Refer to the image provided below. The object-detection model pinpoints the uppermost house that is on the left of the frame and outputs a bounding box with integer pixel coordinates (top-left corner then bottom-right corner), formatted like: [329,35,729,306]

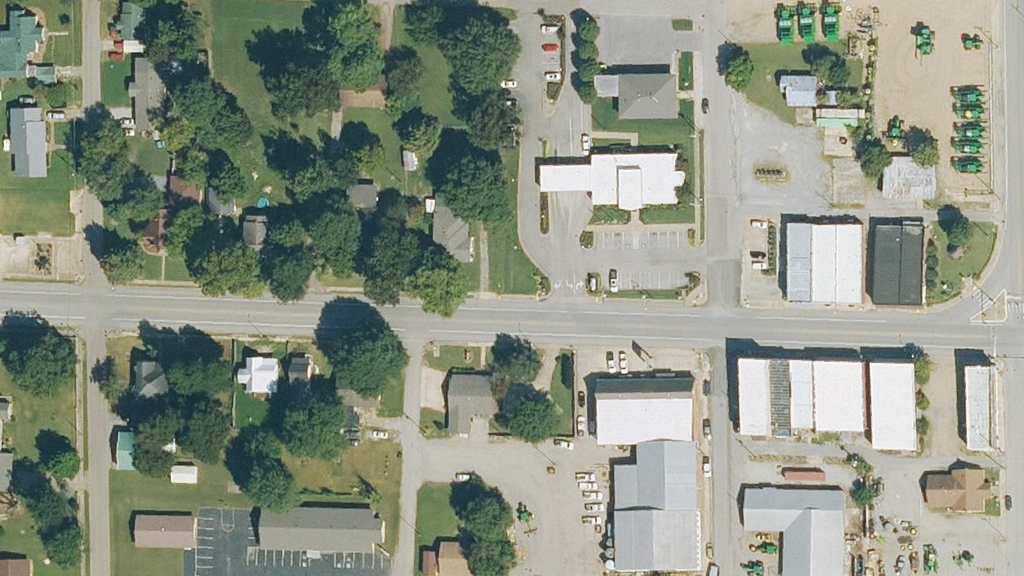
[109,1,144,38]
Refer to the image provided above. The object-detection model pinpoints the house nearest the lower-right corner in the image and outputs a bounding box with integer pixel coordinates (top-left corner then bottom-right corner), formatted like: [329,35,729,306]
[926,469,990,514]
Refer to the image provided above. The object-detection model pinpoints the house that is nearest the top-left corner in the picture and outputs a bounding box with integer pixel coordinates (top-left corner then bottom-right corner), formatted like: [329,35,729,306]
[0,11,45,76]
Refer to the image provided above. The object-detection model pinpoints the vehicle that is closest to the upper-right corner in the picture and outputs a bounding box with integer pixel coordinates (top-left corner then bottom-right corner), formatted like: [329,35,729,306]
[964,37,982,49]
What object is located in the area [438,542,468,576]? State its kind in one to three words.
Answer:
house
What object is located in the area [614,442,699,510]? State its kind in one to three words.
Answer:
building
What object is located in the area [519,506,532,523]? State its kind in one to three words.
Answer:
vehicle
